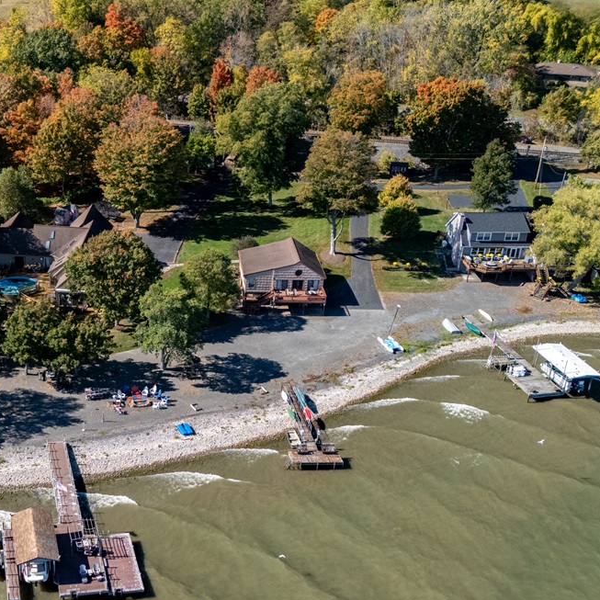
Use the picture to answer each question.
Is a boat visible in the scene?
Yes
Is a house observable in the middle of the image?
Yes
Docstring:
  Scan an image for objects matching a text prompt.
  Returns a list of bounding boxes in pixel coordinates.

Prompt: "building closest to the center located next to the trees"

[228,229,331,316]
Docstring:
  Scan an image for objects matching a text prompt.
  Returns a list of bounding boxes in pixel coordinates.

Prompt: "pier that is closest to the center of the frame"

[287,390,344,472]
